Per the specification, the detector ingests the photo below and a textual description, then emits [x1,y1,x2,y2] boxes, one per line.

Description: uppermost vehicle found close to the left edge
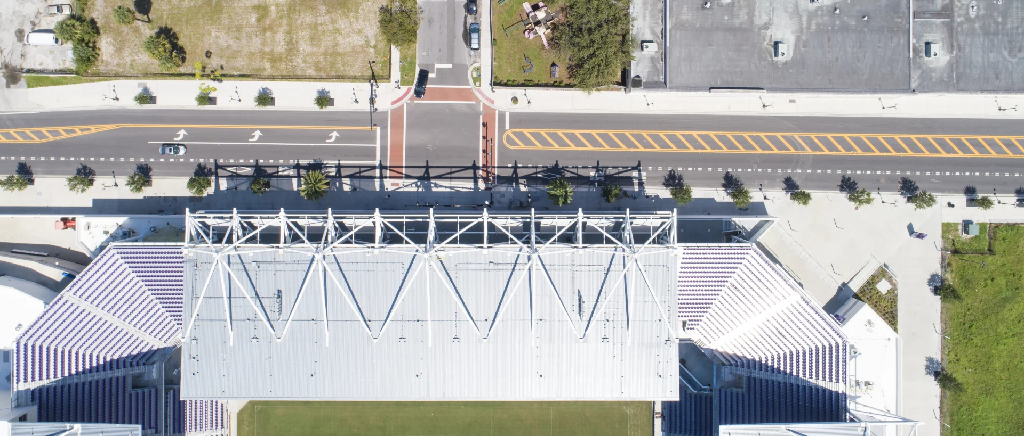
[43,2,71,14]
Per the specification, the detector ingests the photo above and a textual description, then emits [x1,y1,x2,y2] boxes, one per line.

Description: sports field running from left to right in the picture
[237,400,652,436]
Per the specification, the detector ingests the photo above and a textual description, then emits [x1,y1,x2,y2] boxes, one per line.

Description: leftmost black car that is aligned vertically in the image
[413,69,428,98]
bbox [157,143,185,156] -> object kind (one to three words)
vehicle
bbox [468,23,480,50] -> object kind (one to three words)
vehicle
